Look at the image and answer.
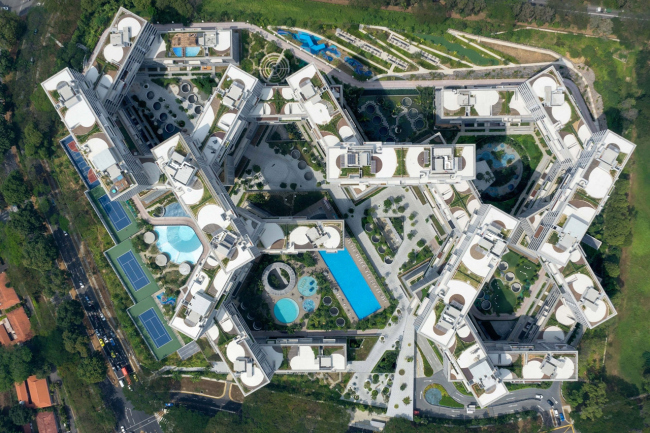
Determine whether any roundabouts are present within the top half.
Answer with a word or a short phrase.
No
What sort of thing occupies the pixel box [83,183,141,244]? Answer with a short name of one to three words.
tennis court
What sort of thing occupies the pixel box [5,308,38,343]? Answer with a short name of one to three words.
house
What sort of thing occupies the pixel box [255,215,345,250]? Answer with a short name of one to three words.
building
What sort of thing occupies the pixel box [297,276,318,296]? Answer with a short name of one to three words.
swimming pool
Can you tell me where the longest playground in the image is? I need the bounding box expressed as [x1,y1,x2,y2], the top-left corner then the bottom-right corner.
[277,28,373,81]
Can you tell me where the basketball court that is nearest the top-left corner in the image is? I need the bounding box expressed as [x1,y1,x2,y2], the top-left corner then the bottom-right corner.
[58,135,100,190]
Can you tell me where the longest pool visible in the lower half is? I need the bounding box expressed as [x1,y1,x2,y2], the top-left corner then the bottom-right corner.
[312,238,391,326]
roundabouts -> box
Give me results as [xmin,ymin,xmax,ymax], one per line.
[423,383,467,408]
